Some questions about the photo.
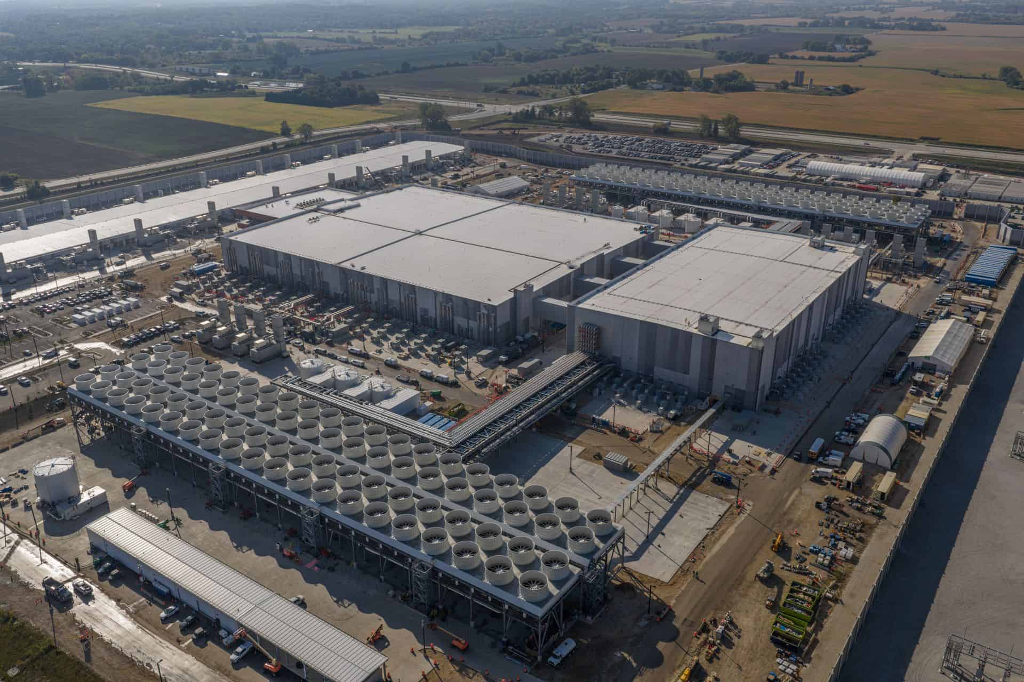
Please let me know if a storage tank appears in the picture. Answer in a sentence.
Yes, a storage tank is visible in the scene.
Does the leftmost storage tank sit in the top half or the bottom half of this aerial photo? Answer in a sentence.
It is in the bottom half that the leftmost storage tank appears.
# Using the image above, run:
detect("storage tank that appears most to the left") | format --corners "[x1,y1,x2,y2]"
[37,449,92,512]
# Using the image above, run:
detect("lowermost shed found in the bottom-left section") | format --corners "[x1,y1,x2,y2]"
[83,507,391,682]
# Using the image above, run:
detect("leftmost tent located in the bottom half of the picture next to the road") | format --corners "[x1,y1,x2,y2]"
[850,402,916,472]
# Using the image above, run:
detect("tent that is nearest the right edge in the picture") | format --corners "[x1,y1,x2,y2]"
[908,318,972,375]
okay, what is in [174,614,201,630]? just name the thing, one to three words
car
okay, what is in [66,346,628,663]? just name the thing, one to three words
cooling tower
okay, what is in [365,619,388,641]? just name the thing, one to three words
work vehicle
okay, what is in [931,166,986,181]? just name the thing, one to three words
building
